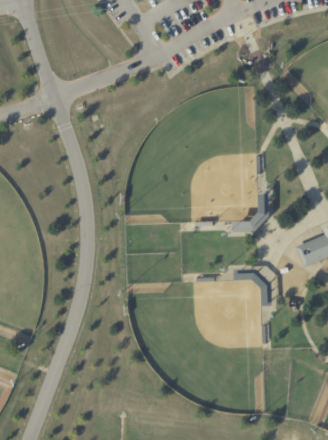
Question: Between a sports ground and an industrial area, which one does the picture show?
sports ground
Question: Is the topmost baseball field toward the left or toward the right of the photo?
right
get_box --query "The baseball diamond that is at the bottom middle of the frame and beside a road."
[128,280,264,414]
